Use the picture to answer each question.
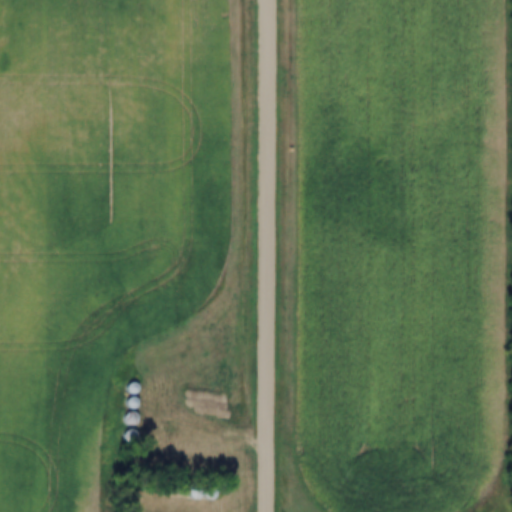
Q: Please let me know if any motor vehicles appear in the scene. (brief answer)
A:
No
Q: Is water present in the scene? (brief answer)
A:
No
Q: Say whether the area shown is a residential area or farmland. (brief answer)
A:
farmland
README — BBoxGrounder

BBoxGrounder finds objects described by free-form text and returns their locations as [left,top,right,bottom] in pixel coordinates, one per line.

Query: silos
[124,410,142,427]
[127,380,142,395]
[126,395,142,410]
[124,428,140,444]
